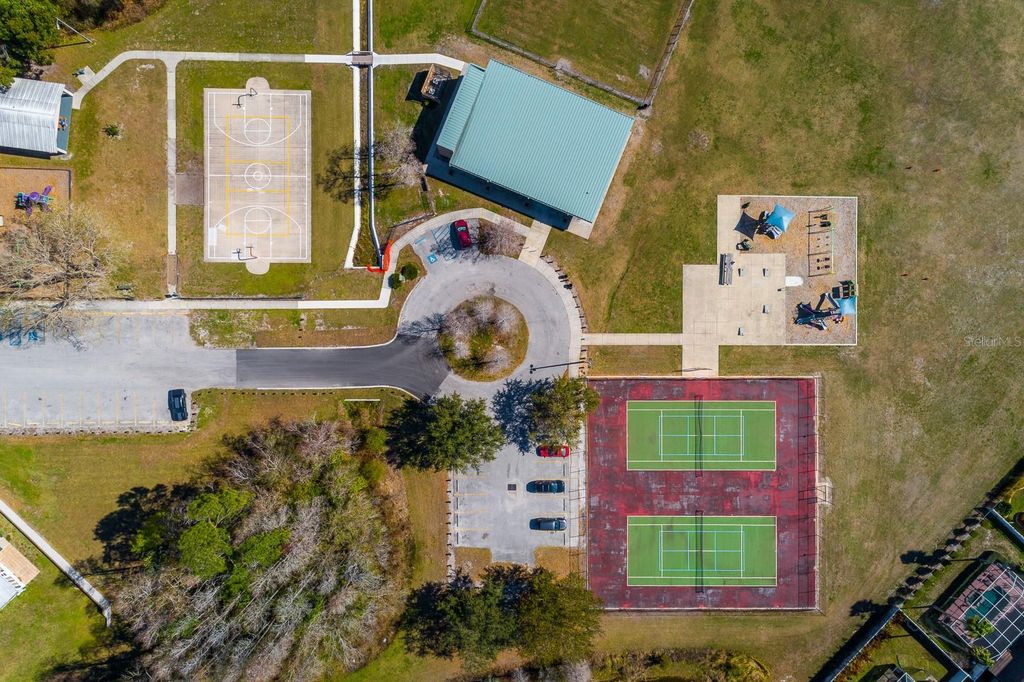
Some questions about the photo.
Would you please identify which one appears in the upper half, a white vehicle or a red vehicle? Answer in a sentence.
The feature located in the upper half is a red vehicle.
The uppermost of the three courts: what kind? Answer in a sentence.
From above, the uppermost of the three courts can be identified as a basketball court.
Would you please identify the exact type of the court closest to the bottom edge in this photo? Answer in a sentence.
The court closest to the bottom edge appears to be a tennis court.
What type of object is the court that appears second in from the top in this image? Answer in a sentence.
I'd say the court that appears second in from the top is a tennis court.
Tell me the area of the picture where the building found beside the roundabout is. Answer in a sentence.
The building found beside the roundabout appears toward the top of the photo.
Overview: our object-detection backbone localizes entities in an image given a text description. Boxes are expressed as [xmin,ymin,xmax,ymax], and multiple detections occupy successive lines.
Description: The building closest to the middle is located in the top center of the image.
[437,60,636,224]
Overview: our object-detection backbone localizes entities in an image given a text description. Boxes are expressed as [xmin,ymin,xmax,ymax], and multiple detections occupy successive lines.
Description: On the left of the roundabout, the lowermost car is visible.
[171,389,189,421]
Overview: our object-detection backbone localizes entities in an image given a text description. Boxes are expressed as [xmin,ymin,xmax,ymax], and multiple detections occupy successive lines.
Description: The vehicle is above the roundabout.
[454,219,471,250]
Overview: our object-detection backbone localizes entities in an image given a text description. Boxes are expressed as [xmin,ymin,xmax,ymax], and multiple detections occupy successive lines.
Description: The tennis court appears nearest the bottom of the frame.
[627,512,777,591]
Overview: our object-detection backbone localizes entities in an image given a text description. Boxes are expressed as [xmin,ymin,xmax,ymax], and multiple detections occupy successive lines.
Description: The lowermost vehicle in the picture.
[534,518,565,533]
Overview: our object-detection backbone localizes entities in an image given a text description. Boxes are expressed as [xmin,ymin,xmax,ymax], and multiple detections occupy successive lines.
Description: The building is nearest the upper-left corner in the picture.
[0,78,74,155]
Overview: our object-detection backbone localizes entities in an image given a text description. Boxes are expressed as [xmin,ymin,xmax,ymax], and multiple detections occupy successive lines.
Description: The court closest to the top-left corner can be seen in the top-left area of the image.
[204,77,311,274]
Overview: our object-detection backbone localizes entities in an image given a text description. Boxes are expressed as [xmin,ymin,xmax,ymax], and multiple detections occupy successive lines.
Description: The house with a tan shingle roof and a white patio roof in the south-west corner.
[0,537,40,610]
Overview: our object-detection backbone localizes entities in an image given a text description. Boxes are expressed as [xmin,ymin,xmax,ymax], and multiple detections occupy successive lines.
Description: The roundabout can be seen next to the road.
[394,251,571,426]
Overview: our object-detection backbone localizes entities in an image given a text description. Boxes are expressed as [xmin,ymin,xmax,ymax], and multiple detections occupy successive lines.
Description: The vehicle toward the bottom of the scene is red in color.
[540,445,569,459]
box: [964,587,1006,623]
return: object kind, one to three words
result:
swimming pool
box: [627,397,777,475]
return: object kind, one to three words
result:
tennis court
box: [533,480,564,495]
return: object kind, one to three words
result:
car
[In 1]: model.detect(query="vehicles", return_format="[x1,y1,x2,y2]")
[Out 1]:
[534,518,565,533]
[540,445,569,459]
[171,389,189,421]
[454,219,471,250]
[533,480,564,495]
